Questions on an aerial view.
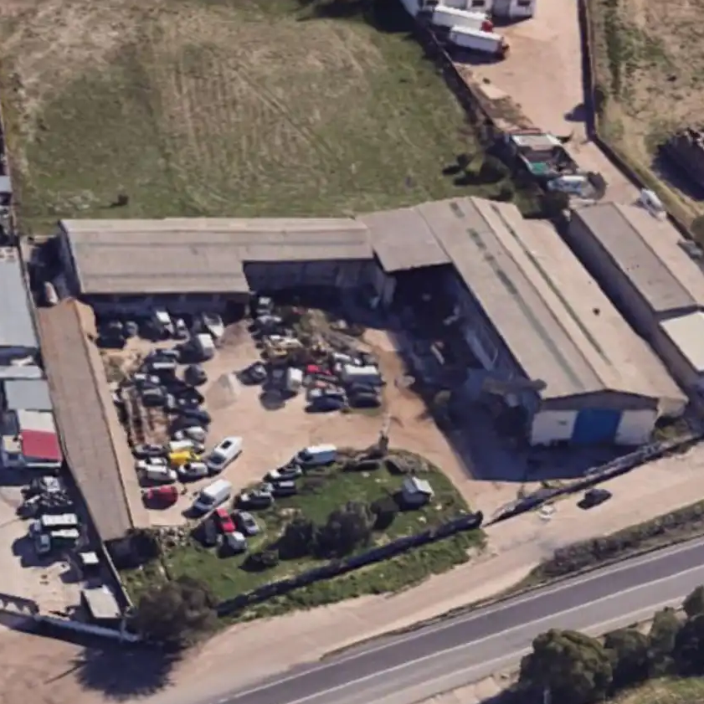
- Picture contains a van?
Yes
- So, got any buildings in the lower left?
Yes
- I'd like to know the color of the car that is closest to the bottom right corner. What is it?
black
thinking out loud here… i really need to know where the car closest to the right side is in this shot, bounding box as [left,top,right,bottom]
[682,239,704,264]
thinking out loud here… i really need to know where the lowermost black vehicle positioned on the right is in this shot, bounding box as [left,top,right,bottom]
[578,487,613,510]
